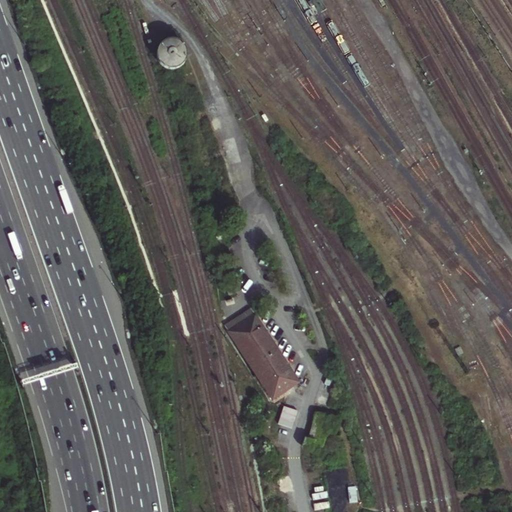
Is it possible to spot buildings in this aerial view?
Yes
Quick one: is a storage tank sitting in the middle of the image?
No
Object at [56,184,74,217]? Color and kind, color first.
white vehicle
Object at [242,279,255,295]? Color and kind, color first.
white vehicle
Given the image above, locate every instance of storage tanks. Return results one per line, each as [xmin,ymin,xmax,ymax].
[158,37,186,68]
